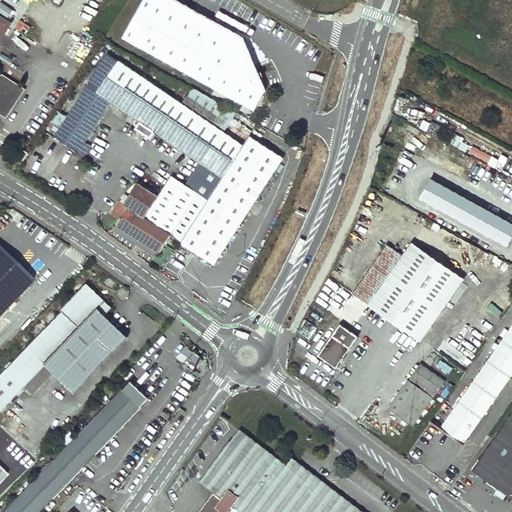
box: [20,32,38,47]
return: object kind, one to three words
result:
vehicle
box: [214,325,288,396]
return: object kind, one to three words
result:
roundabout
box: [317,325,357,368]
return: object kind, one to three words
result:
building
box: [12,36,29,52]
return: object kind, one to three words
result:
vehicle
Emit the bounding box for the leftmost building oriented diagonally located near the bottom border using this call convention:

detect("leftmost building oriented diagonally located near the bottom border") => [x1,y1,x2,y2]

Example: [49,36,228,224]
[7,382,148,512]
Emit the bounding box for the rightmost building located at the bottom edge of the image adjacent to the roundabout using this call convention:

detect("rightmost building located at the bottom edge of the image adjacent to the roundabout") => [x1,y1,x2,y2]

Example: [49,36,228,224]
[200,429,365,512]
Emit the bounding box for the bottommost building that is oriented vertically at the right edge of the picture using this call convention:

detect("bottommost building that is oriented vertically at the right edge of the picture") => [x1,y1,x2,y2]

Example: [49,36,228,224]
[472,409,512,498]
